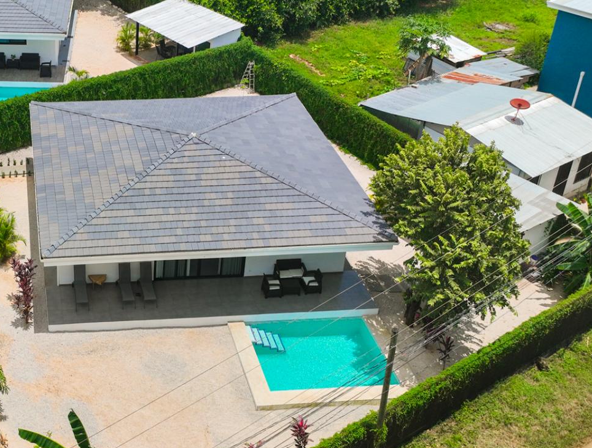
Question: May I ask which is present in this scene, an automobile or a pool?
pool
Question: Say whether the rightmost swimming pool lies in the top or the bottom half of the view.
bottom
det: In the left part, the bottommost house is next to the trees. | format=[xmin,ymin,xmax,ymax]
[25,90,388,332]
